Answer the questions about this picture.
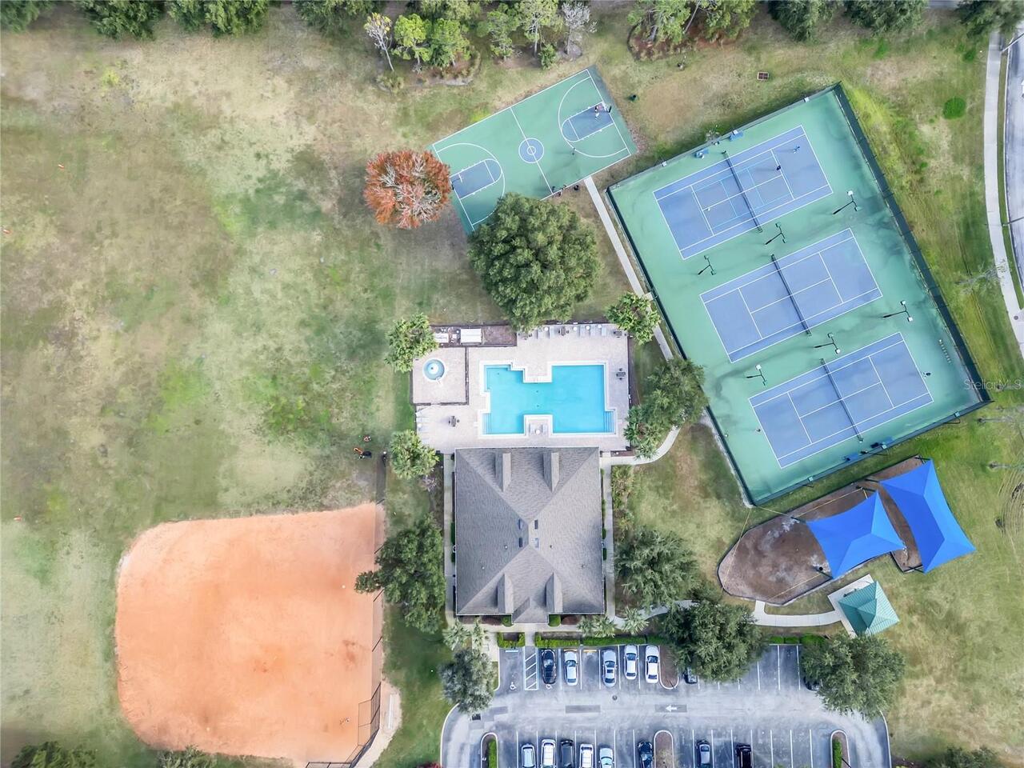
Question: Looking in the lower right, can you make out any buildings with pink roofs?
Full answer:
No, in the lower right there is no building with a pink roof.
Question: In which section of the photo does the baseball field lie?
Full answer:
The baseball field sits in the bottom left section of the image.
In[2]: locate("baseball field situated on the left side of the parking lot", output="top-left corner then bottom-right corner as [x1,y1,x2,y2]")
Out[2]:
[116,502,386,768]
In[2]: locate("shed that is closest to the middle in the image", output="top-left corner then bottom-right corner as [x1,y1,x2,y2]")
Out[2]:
[460,328,482,343]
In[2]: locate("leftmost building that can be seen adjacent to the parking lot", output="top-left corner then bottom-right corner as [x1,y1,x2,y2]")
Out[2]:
[454,447,605,624]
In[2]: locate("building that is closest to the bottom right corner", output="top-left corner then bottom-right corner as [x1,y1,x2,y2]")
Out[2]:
[835,580,900,636]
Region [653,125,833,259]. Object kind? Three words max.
tennis court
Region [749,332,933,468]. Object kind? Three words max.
tennis court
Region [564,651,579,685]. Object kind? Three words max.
car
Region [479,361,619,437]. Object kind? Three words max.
swimming pool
